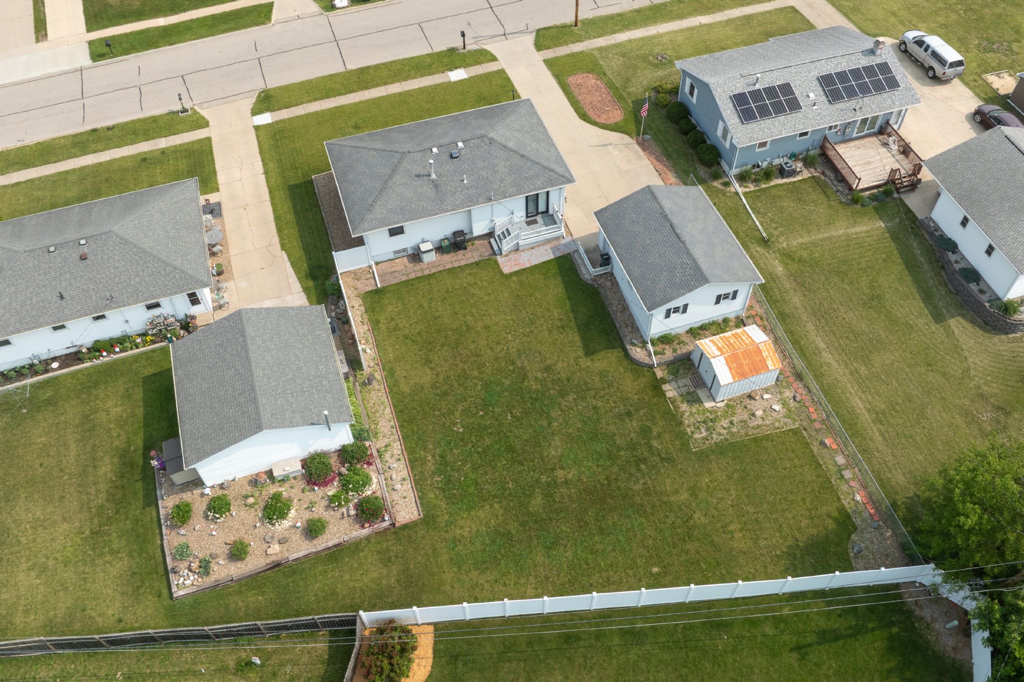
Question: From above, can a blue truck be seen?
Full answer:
No, the picture doesn't show any blue truck.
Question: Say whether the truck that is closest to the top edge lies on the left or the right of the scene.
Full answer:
It is on the right.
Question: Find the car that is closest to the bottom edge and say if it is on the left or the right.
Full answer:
The car that is closest to the bottom edge appears in the right half of the scene.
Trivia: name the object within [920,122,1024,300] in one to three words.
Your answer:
house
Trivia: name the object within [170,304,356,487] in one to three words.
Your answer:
building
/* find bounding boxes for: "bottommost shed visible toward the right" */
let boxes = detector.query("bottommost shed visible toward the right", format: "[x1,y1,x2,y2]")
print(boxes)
[694,326,782,402]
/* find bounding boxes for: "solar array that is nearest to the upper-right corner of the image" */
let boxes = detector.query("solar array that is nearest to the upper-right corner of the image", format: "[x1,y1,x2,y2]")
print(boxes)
[819,61,900,103]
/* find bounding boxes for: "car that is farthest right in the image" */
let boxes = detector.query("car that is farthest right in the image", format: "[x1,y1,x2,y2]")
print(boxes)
[972,97,1024,127]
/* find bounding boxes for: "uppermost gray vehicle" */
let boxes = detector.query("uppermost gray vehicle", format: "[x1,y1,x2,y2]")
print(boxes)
[898,33,964,83]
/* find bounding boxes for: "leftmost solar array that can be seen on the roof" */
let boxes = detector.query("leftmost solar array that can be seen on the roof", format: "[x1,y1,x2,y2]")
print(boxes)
[731,82,802,123]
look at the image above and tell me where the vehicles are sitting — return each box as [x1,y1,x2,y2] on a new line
[898,33,964,83]
[972,97,1024,127]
